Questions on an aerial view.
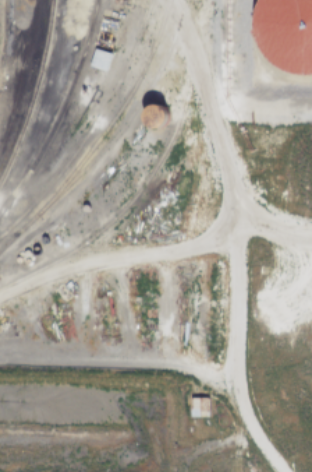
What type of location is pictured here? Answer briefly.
industrial area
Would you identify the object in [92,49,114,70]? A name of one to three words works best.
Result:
shed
